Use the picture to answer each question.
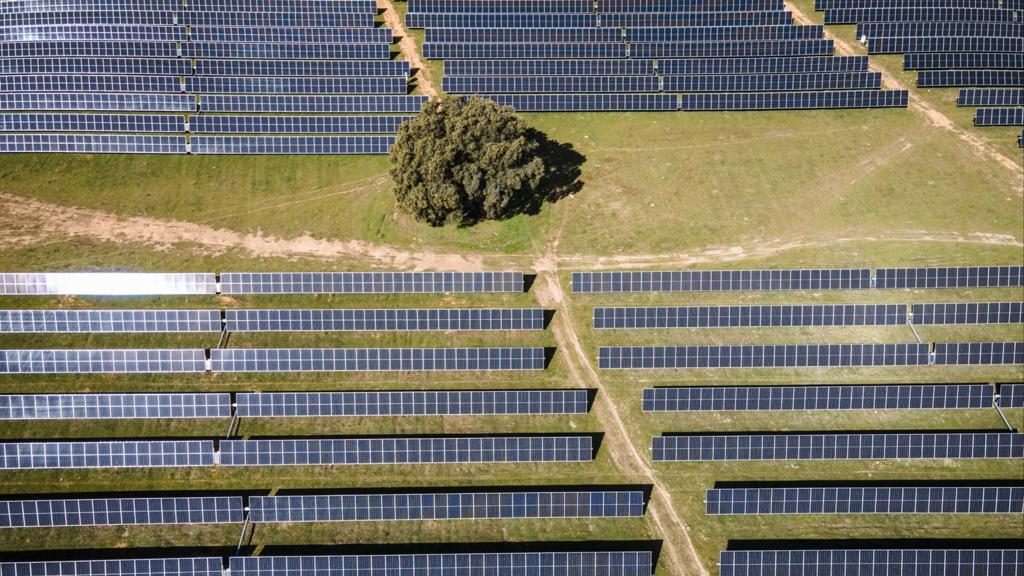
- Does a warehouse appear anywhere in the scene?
No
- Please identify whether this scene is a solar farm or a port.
solar farm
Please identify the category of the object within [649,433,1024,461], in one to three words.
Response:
solar array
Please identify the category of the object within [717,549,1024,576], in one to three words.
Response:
solar array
